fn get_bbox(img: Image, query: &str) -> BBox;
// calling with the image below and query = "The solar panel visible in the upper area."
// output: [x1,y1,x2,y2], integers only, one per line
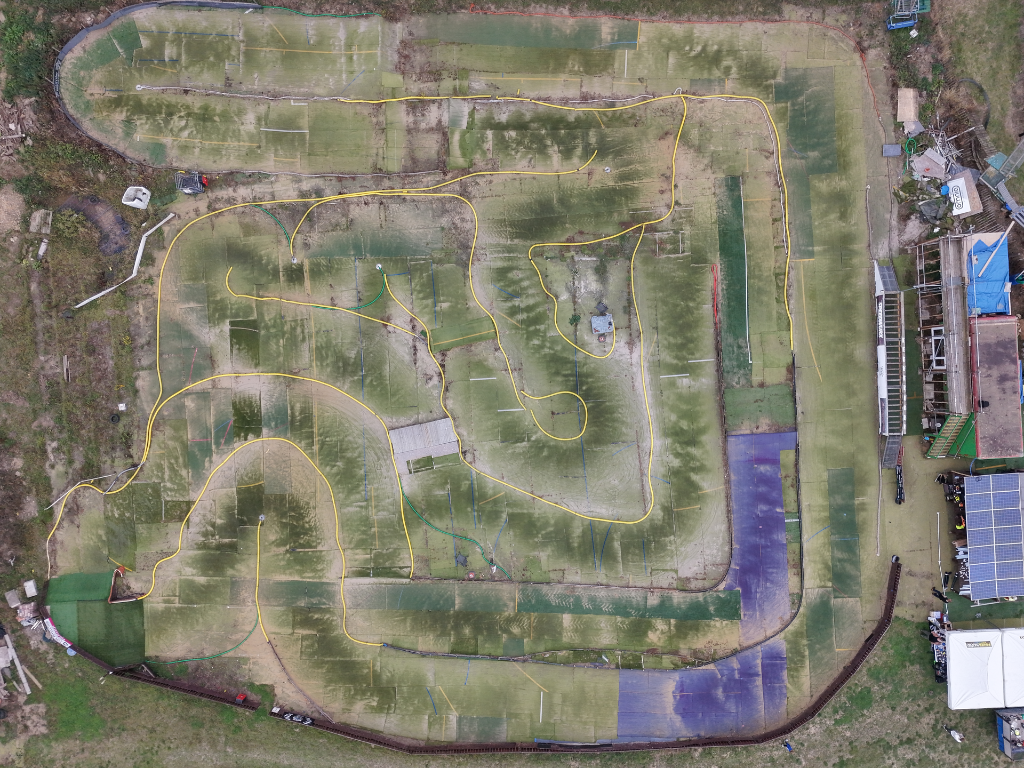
[882,144,901,157]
